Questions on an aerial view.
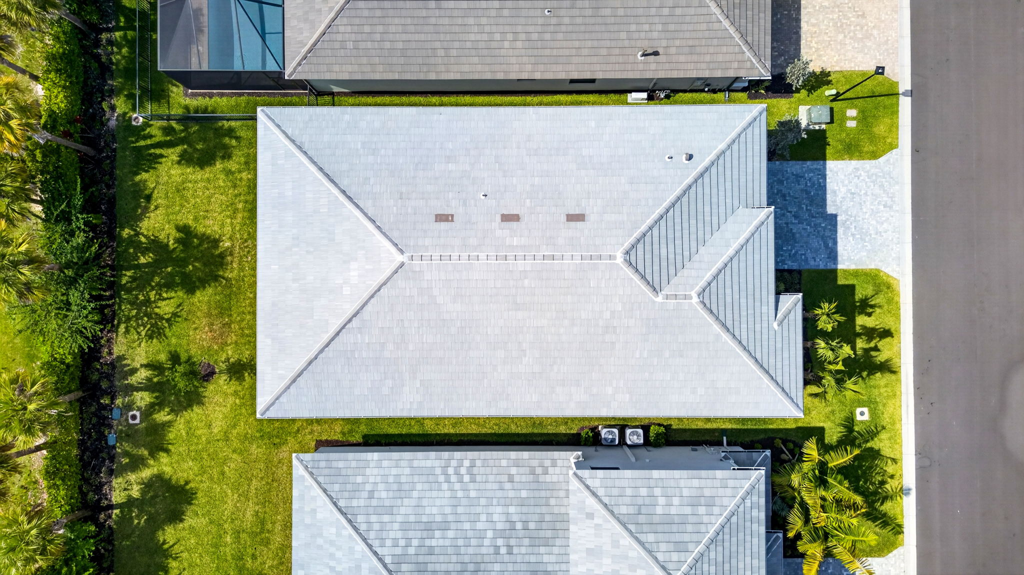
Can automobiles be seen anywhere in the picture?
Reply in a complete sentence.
No, I find no automobile anywhere in the image.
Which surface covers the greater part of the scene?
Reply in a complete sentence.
The largest share of the image is taken up by buildings.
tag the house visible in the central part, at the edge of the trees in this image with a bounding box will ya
[257,105,804,418]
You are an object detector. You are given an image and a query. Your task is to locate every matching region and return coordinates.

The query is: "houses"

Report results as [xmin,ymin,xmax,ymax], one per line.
[291,436,784,575]
[257,105,804,418]
[284,0,773,100]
